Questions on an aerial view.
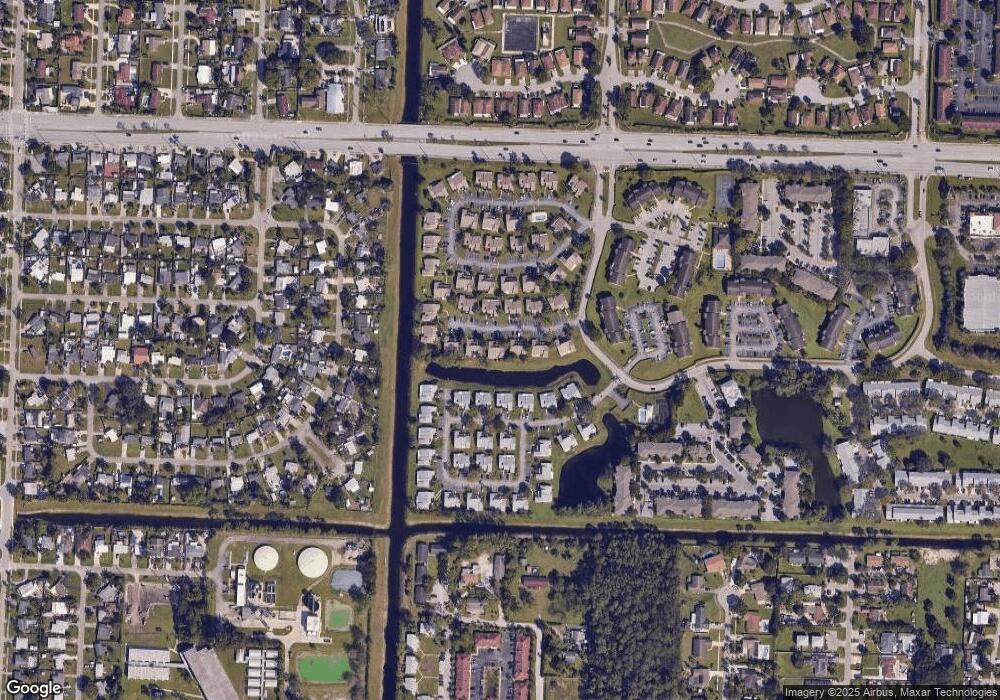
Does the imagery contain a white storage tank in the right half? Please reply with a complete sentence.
No, looking in the right half, there is no white storage tank.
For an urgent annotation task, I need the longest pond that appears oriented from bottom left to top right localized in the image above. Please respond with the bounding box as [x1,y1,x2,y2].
[553,413,636,509]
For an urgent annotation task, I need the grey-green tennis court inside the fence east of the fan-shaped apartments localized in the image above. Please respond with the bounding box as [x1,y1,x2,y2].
[716,175,733,210]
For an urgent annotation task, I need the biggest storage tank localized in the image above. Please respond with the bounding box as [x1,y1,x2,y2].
[297,547,328,579]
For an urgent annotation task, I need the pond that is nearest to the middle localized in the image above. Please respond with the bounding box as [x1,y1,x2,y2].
[427,359,601,387]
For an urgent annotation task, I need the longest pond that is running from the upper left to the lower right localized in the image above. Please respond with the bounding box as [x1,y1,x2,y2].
[752,389,843,514]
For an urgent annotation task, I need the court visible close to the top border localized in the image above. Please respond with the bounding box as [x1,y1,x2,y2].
[503,14,538,53]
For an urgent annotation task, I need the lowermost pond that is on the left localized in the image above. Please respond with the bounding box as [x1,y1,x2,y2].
[297,653,354,684]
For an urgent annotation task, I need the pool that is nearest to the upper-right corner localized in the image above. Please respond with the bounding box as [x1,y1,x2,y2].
[712,250,729,272]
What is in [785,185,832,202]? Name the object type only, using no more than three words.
building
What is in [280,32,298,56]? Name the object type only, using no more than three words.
house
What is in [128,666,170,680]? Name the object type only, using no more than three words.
building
